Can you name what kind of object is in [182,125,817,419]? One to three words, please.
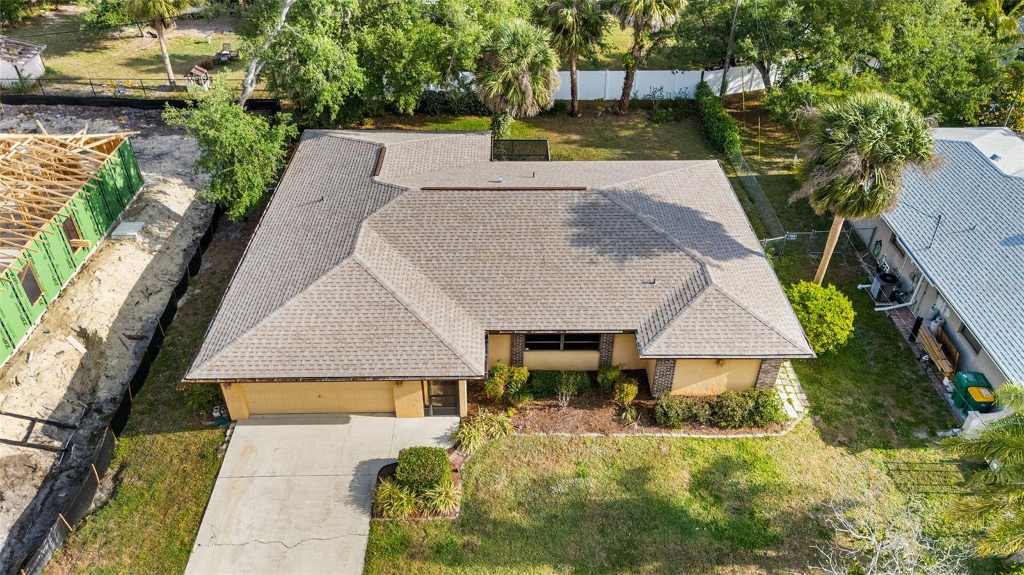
house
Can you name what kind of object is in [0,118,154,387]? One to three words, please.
house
